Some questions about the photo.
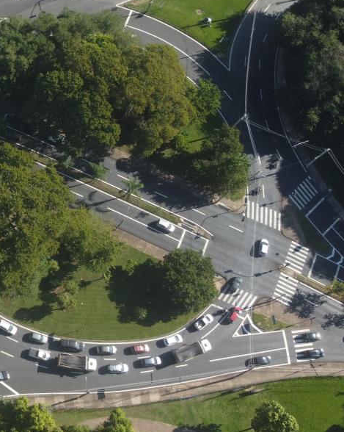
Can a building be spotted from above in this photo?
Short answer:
No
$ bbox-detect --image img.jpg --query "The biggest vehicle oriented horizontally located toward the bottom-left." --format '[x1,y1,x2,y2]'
[55,352,97,369]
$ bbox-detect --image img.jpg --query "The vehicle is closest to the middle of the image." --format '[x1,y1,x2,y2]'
[156,219,175,233]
